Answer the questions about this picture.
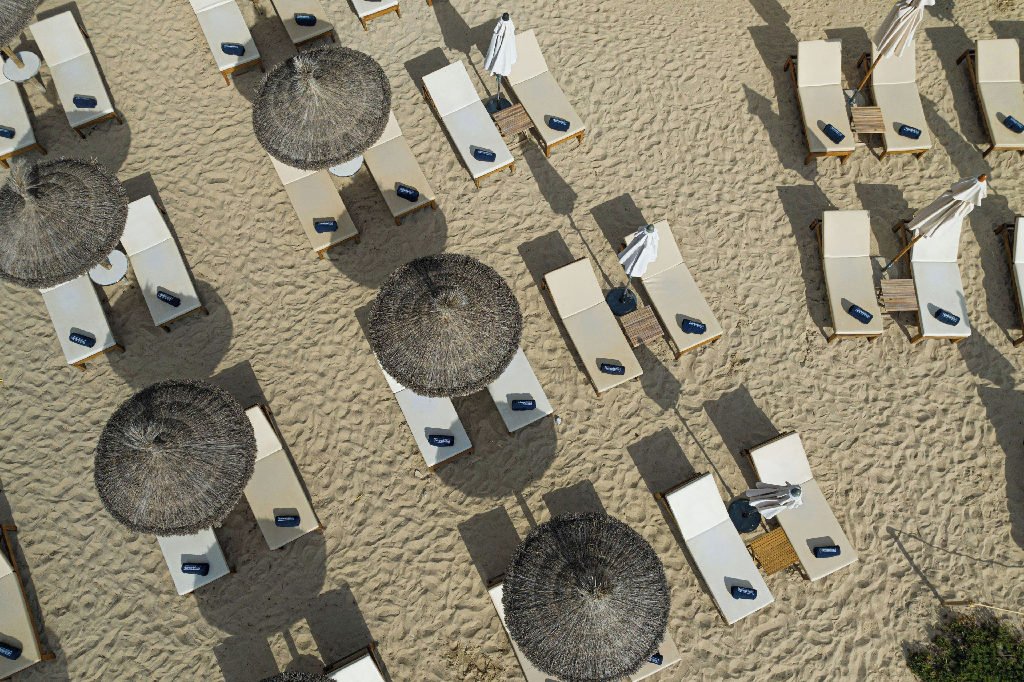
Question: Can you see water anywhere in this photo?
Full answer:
No, no water is visible.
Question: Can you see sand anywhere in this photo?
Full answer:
Yes, there's sand in this view.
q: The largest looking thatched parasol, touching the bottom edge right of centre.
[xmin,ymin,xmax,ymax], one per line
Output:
[497,507,675,682]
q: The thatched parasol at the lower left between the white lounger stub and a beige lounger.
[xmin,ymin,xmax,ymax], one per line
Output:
[90,373,262,542]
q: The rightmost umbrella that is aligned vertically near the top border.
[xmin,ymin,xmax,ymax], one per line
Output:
[483,12,517,101]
